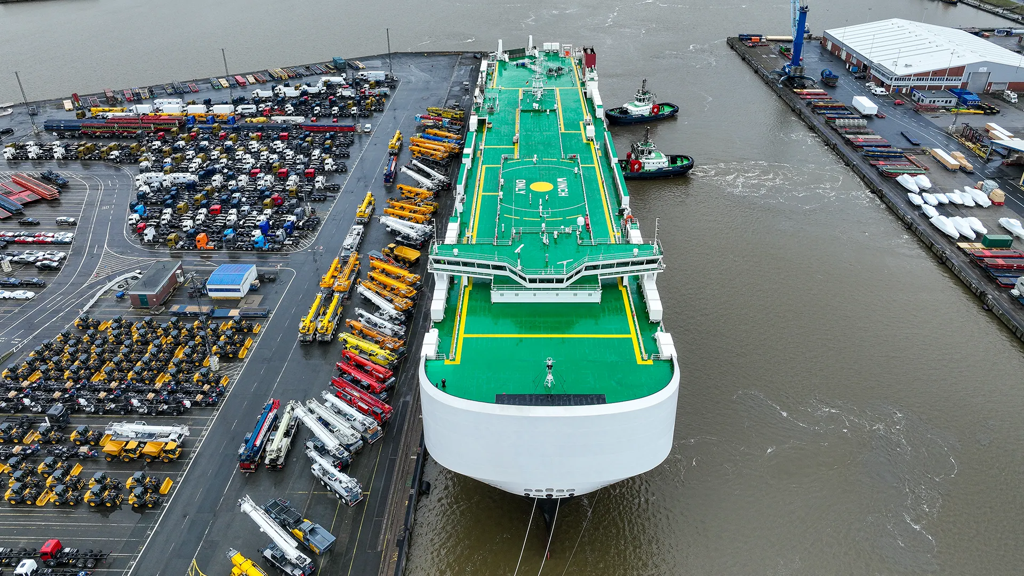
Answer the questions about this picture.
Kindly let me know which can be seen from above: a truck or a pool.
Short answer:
truck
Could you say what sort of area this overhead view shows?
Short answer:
port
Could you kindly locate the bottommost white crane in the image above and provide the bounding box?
[237,498,323,576]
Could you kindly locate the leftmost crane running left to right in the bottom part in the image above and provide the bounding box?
[99,416,192,446]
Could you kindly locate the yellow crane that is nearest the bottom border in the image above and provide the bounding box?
[216,549,279,576]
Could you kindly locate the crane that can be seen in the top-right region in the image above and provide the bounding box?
[762,0,829,86]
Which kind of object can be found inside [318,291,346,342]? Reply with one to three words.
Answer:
crane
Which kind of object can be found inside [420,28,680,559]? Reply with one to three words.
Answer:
ship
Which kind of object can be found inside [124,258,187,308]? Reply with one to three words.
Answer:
building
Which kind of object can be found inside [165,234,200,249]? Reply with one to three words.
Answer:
vehicle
